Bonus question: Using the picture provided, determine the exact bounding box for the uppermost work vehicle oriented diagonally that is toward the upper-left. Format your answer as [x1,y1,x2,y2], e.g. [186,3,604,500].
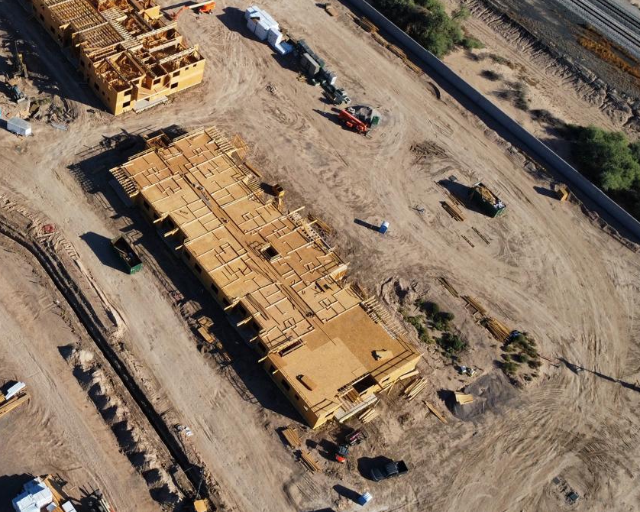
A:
[1,69,29,101]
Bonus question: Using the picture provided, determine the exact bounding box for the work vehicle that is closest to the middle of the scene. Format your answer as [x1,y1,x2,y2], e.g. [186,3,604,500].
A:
[340,110,379,140]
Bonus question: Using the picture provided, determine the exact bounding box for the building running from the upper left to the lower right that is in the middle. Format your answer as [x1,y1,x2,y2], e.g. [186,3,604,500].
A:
[111,125,424,427]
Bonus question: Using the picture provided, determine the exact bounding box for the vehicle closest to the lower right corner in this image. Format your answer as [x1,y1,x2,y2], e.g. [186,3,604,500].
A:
[368,458,412,486]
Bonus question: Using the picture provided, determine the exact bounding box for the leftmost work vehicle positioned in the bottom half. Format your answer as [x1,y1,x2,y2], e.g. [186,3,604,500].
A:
[81,465,112,512]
